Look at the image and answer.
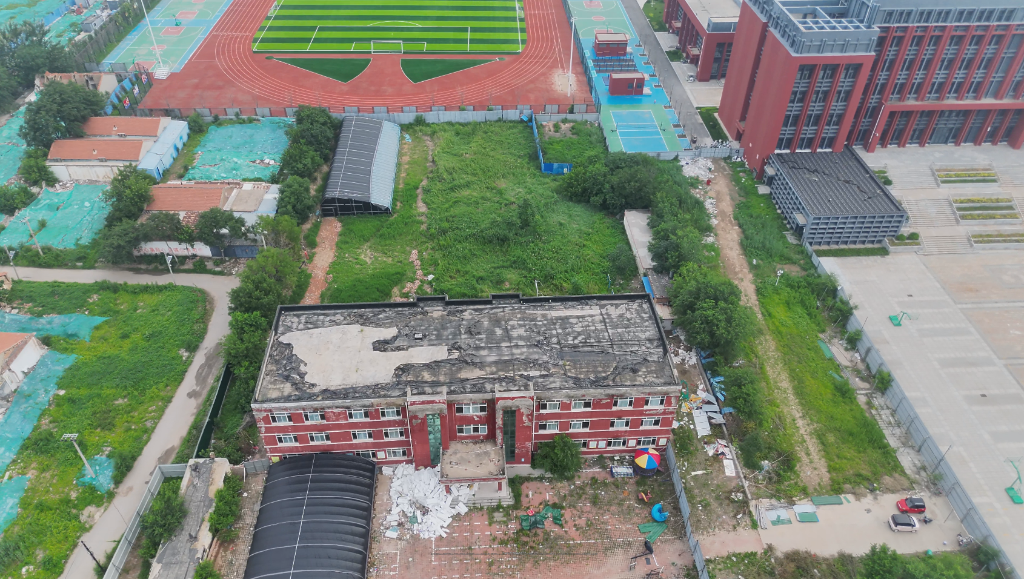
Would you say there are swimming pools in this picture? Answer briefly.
No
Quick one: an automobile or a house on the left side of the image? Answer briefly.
house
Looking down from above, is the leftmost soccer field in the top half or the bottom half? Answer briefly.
top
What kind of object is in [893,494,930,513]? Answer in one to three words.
car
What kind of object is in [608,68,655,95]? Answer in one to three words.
shed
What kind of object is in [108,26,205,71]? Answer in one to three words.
basketball court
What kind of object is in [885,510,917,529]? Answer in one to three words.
car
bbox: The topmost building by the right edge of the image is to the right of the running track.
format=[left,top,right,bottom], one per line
[719,0,1024,179]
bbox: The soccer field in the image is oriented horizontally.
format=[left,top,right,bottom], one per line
[245,0,527,55]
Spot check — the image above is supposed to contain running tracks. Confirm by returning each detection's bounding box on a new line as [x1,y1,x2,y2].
[121,0,595,116]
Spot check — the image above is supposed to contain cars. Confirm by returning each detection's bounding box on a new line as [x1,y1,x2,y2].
[885,510,917,529]
[893,494,930,513]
